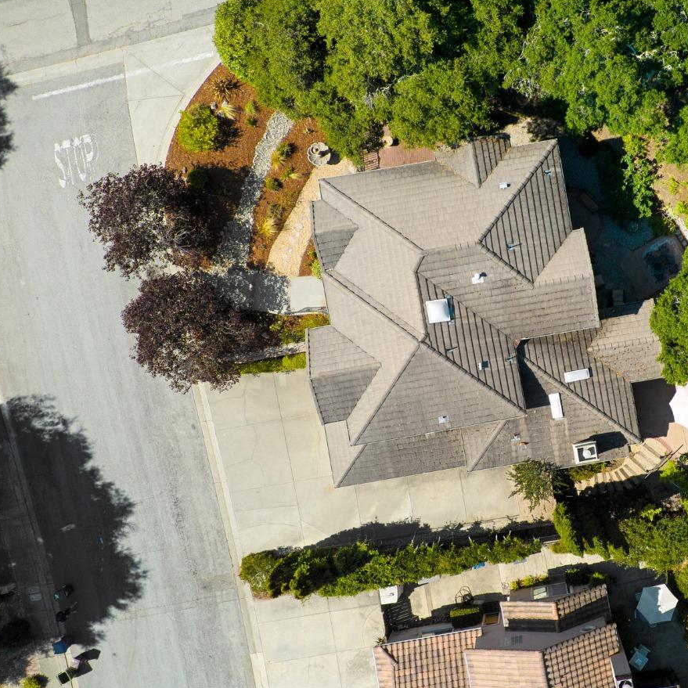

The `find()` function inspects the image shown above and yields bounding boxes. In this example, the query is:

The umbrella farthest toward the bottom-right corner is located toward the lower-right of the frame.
[635,581,675,623]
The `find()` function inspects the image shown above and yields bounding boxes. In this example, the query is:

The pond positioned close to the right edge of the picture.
[630,240,684,291]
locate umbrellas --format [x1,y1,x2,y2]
[635,581,675,623]
[668,390,688,428]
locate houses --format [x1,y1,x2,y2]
[305,133,667,490]
[372,568,678,688]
